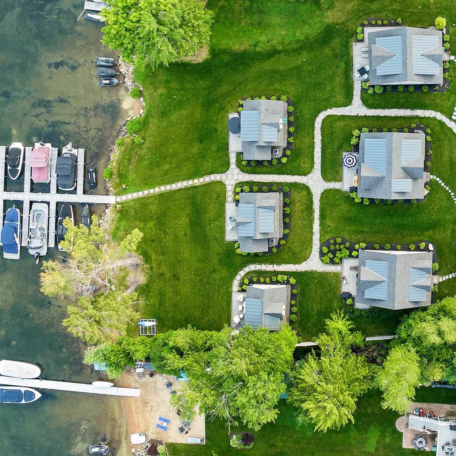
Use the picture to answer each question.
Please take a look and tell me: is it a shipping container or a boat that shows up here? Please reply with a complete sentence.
This aerial view contains a boat.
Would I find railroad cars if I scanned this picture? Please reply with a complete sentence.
No, no railroad car is visible in the view.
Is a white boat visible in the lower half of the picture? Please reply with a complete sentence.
Yes, I can see a white boat in the lower half of the picture.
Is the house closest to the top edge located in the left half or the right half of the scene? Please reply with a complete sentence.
The house closest to the top edge sits on the right side.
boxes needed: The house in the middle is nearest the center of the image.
[235,193,282,254]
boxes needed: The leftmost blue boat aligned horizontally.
[0,386,42,403]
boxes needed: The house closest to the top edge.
[368,26,444,84]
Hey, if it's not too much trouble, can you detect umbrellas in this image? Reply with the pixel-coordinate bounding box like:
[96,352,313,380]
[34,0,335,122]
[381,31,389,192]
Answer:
[341,152,359,169]
[226,117,242,132]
